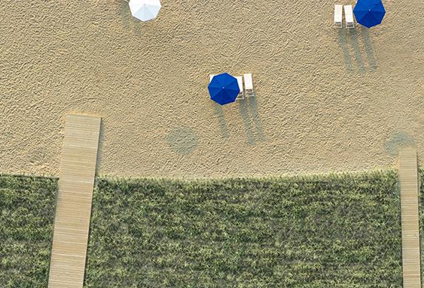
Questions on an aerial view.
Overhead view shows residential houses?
No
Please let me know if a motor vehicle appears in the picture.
No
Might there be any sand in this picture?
Yes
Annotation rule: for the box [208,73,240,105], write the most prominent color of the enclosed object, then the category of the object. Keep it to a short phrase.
blue umbrella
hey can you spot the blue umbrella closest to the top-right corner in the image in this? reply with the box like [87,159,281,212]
[353,0,385,28]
